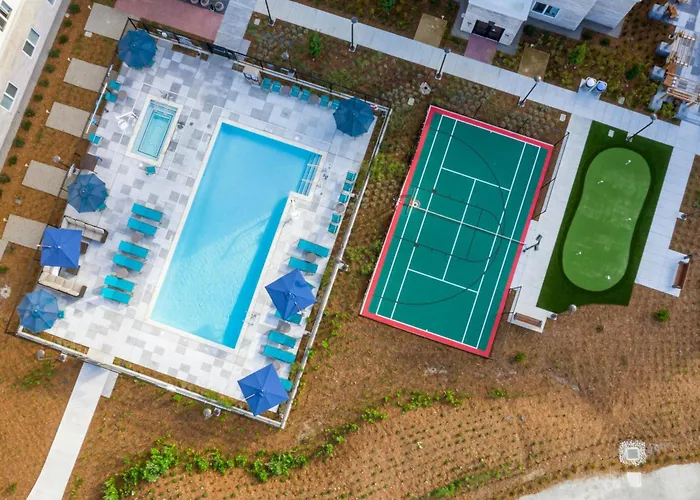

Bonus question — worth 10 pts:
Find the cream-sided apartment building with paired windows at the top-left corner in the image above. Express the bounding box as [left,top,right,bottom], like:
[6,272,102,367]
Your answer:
[0,0,63,154]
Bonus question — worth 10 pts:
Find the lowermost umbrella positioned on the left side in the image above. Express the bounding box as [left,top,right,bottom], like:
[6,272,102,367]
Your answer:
[237,363,289,416]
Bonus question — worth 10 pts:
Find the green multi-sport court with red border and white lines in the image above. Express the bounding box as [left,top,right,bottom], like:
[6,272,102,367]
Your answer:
[360,105,553,356]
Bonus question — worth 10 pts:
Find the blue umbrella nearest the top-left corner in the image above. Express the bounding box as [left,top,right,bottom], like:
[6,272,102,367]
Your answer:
[118,30,158,68]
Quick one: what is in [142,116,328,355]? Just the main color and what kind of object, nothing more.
blue swimming pool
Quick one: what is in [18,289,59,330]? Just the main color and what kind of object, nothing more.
blue umbrella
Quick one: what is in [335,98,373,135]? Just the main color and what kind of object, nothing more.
blue umbrella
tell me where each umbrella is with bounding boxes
[38,229,84,268]
[68,174,107,213]
[335,98,373,135]
[18,289,59,330]
[237,363,289,416]
[266,269,317,326]
[118,30,158,68]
